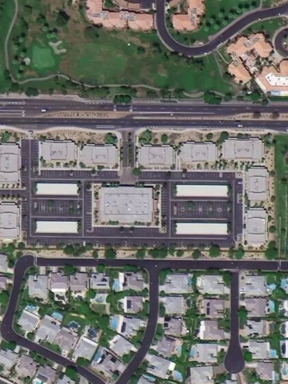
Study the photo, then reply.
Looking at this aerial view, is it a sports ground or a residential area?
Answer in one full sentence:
The area seen from above is a residential area.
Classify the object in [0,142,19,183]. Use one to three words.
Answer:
building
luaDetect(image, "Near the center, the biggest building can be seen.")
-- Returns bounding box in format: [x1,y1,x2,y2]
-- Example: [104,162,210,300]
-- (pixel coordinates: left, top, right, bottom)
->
[92,184,161,228]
